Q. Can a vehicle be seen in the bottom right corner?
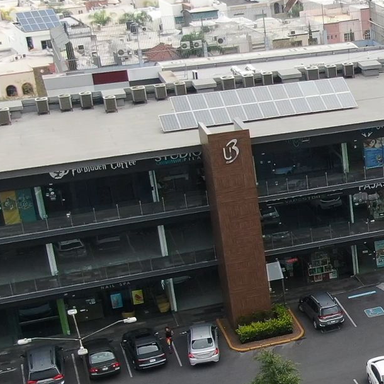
Yes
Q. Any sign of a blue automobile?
No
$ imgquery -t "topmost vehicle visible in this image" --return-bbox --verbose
[295,288,343,330]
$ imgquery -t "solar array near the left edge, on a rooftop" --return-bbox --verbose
[0,0,52,32]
